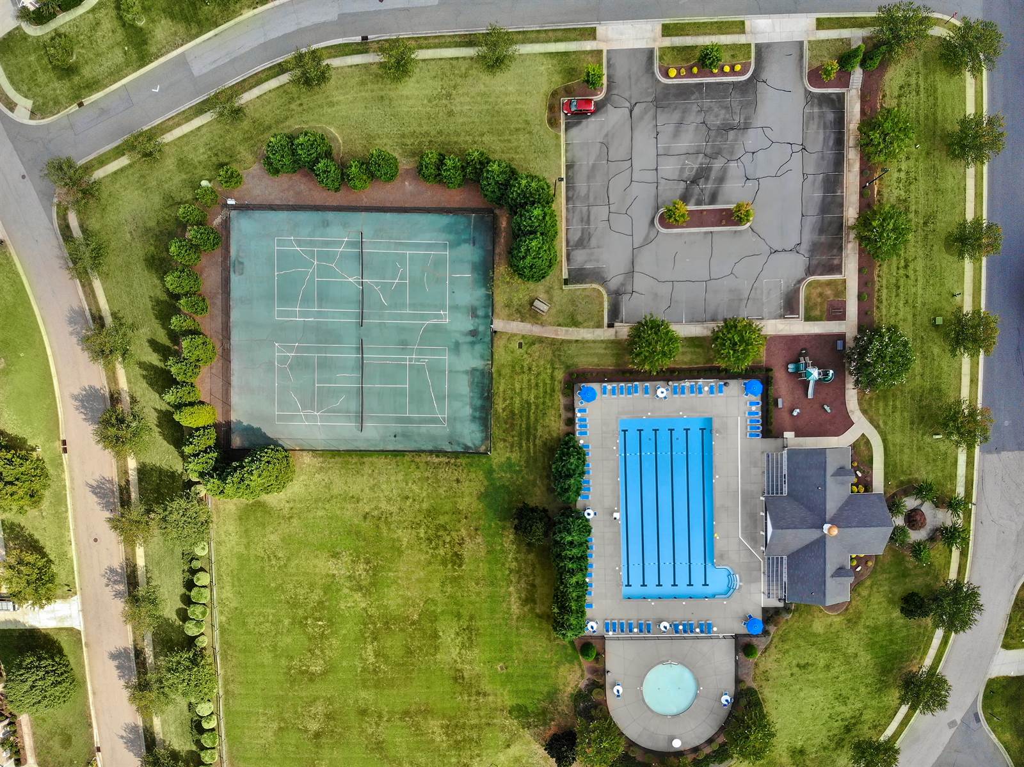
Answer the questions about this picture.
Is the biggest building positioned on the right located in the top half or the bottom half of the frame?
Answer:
bottom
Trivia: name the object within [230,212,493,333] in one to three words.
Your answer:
tennis court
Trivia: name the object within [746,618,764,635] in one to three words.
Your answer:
umbrella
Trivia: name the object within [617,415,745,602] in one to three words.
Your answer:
swimming pool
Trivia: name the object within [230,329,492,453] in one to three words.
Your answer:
tennis court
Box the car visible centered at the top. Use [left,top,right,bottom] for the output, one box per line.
[565,96,596,114]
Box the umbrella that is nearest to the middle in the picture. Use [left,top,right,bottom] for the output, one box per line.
[580,386,597,403]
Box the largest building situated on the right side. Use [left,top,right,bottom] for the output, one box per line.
[757,447,894,609]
